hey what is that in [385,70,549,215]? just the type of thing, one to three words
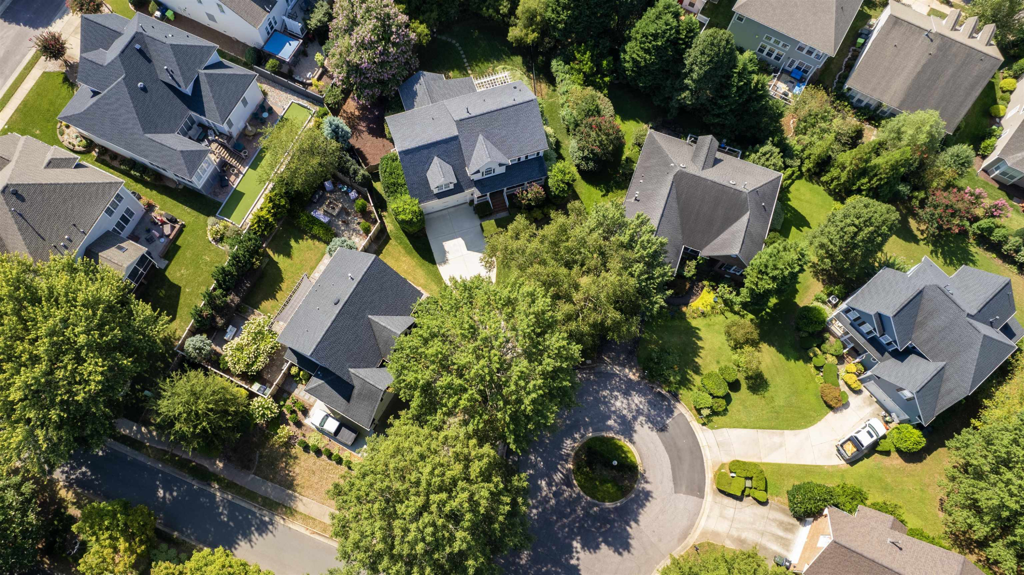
house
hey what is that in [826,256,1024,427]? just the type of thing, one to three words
house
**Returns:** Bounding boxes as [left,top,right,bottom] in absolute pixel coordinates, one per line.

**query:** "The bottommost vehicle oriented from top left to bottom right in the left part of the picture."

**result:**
[310,409,359,447]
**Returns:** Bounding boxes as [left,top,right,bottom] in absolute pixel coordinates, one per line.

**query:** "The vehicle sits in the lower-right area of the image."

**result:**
[838,418,886,459]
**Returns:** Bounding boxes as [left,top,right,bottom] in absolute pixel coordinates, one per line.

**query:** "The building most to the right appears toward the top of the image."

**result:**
[985,105,1024,192]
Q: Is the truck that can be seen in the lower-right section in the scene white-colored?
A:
Yes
